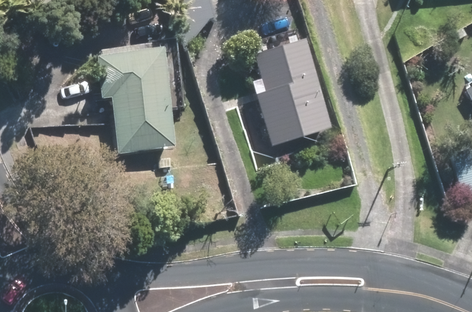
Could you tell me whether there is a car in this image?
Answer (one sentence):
Yes, there's a car here.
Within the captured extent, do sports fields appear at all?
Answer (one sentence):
No, I find no sports field anywhere in the image.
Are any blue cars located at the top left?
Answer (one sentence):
No, there is no blue car at the top left.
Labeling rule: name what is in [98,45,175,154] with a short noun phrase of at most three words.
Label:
house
